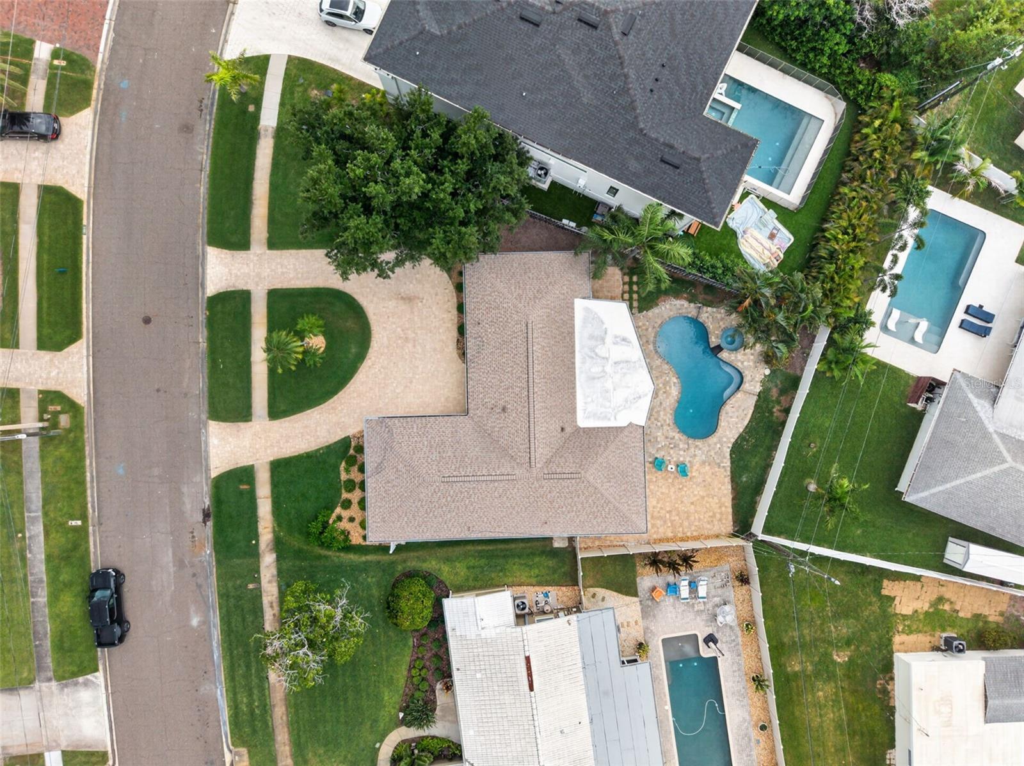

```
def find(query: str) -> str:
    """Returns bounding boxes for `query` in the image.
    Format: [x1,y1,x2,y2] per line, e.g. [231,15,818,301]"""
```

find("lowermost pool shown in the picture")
[659,630,736,766]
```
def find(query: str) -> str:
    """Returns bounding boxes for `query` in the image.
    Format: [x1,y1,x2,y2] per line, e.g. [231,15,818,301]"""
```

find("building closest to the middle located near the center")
[363,249,656,553]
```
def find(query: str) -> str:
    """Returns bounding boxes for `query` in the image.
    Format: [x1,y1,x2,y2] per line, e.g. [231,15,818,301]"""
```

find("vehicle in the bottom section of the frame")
[89,565,133,647]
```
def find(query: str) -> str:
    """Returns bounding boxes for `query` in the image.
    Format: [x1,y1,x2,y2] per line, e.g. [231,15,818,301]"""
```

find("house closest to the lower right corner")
[892,642,1024,766]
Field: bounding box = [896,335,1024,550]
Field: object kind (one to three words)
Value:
house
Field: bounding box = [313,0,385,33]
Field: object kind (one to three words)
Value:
car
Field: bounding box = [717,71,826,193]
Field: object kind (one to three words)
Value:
swimming pool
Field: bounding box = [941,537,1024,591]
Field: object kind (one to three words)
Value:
shed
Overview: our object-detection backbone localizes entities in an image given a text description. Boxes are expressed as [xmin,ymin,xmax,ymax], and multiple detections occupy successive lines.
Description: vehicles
[89,565,133,647]
[0,108,64,144]
[313,0,385,33]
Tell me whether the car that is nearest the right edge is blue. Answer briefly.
No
